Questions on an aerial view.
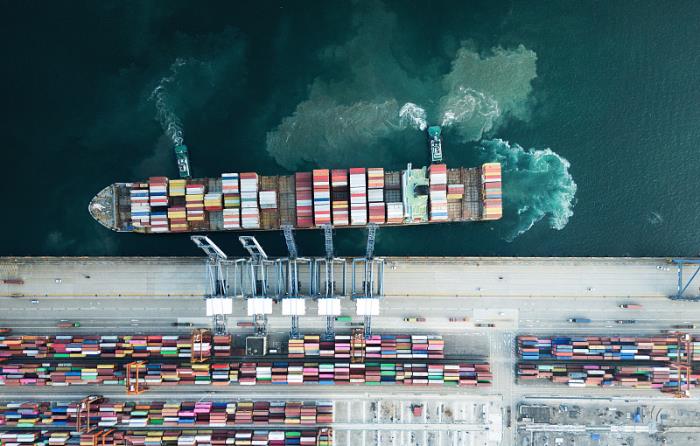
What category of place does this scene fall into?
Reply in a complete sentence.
This image shows a port.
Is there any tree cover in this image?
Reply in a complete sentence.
No, there's no tree cover in this view.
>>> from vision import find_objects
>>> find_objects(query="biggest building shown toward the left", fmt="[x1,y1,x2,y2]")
[247,337,266,356]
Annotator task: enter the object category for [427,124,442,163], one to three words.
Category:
boat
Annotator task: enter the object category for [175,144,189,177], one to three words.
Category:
boat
